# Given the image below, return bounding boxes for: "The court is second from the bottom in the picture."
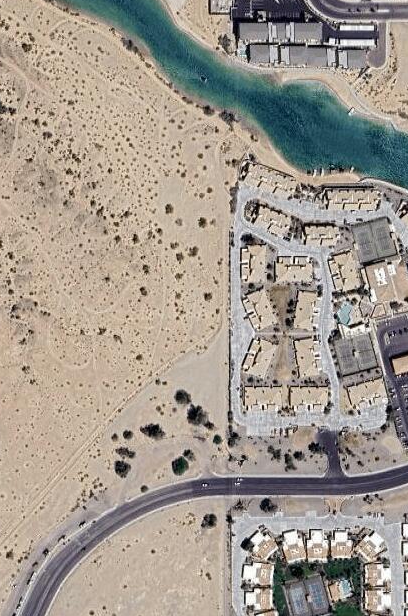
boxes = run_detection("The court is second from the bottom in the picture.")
[333,332,378,376]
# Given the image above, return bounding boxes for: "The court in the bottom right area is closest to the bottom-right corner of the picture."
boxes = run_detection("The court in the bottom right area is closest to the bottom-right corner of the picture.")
[283,574,332,616]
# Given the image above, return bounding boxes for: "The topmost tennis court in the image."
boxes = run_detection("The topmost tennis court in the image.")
[352,217,397,264]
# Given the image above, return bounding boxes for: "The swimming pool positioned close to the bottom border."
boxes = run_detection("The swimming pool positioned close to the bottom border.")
[339,578,353,595]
